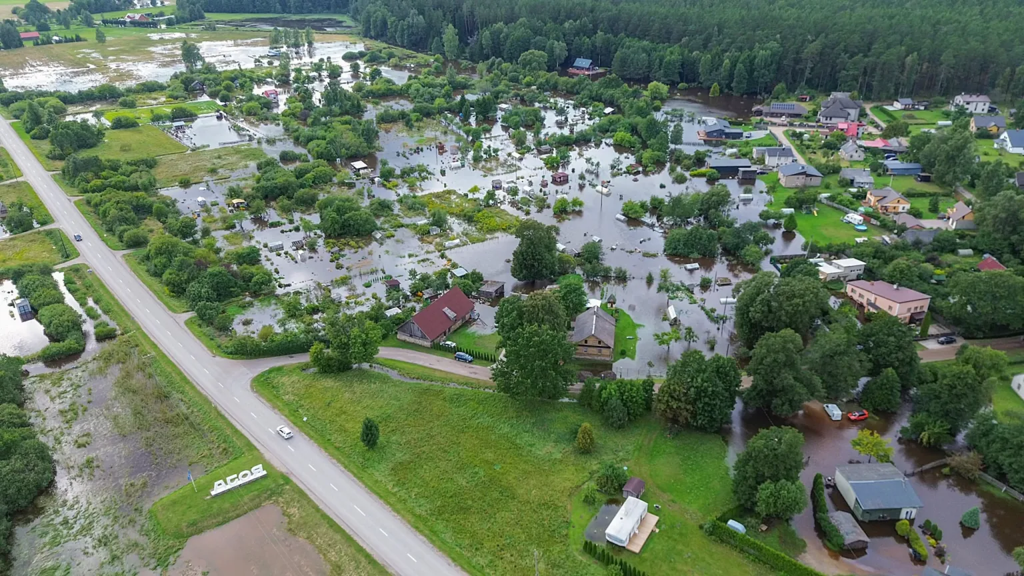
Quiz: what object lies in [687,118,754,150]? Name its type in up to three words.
house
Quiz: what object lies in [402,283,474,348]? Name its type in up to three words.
barn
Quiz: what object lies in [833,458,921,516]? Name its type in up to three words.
shed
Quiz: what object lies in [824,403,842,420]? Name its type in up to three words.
vehicle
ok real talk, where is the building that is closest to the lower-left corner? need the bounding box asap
[9,299,32,321]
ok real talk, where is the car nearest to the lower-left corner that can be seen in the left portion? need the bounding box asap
[276,425,293,439]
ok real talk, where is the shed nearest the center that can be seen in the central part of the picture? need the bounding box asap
[480,278,504,301]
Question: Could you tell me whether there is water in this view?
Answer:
Yes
